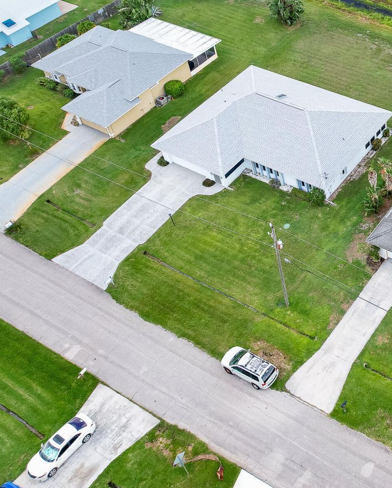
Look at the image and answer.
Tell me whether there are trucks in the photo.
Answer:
No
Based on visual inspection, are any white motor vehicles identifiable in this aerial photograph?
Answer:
Yes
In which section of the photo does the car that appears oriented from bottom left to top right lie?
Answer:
bottom left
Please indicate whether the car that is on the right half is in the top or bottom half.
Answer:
bottom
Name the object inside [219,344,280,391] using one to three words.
car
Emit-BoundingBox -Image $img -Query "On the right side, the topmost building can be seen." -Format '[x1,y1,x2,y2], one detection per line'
[149,65,392,208]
